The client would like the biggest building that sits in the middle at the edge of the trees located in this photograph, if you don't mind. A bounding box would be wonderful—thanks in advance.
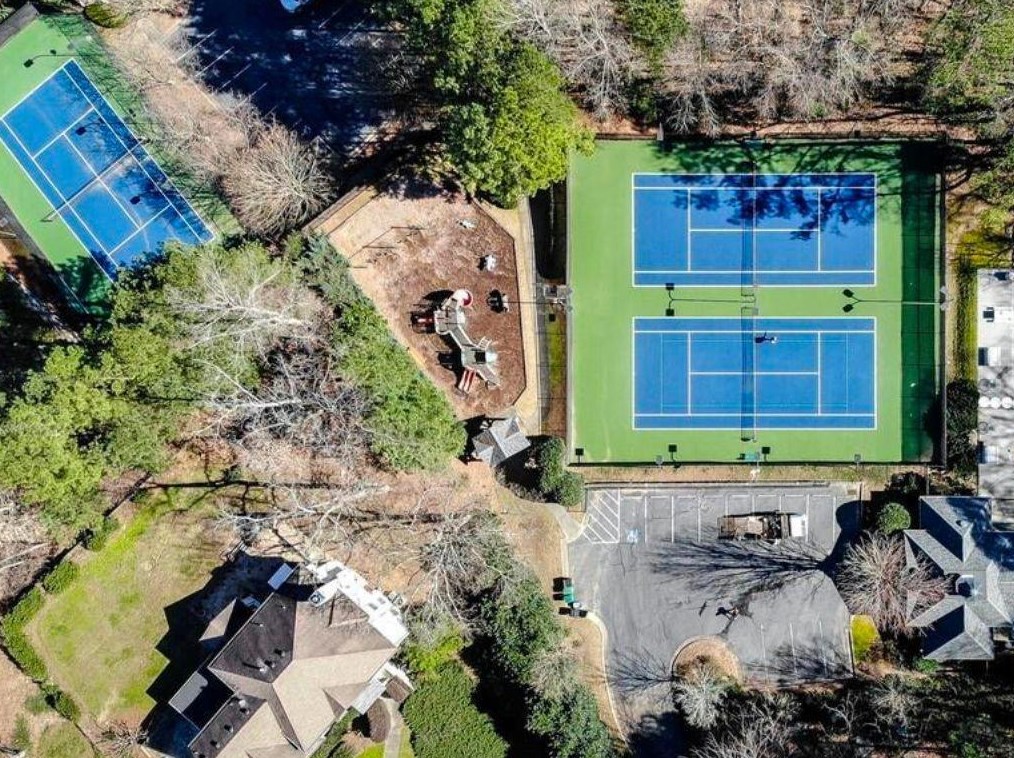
[469,414,534,469]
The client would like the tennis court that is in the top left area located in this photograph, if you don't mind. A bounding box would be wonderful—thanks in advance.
[0,15,261,358]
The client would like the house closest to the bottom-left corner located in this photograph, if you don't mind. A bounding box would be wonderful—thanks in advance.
[168,554,417,758]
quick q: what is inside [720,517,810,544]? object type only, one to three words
truck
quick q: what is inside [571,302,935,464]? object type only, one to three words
tennis court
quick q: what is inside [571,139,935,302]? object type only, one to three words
tennis court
